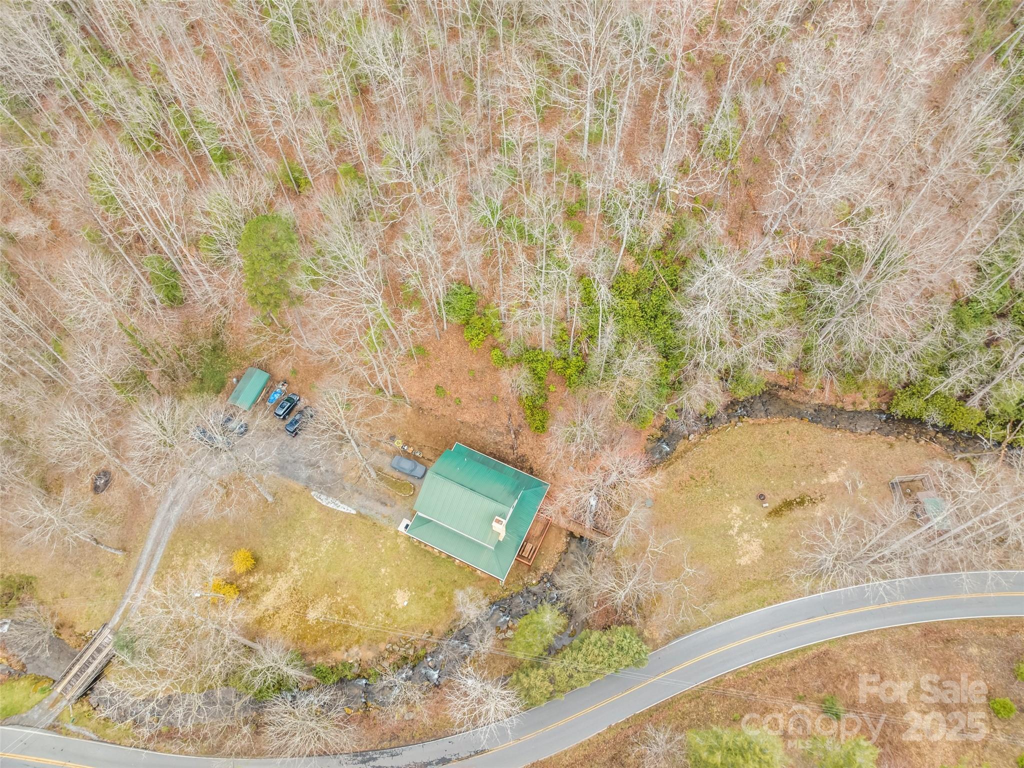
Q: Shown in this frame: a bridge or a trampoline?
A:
bridge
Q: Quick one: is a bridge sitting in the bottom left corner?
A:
Yes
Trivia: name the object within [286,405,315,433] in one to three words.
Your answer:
car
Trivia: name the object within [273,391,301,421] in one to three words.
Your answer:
car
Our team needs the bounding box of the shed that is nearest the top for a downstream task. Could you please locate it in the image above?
[226,368,274,417]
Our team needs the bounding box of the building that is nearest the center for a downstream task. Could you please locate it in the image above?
[405,442,551,586]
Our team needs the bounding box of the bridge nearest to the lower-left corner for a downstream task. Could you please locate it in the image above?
[47,621,126,706]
